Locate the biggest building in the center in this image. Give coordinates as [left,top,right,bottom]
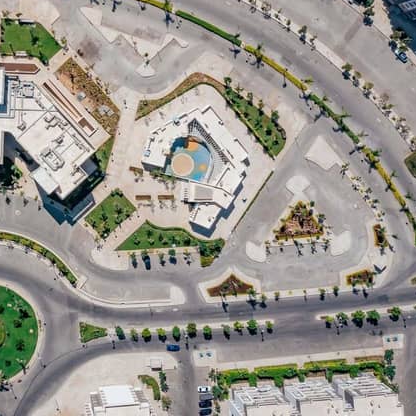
[139,106,249,228]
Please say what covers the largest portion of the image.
paved ground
